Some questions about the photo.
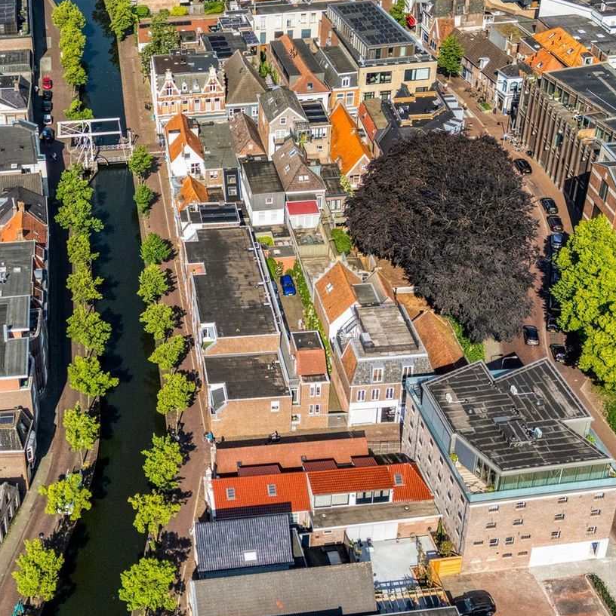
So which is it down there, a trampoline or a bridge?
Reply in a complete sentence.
The image shows a bridge.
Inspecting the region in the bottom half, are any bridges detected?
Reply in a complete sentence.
No, looking in the bottom half, there is no bridge.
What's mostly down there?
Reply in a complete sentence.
The largest share of the image is taken up by buildings.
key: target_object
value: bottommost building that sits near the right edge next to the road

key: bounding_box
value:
[402,357,616,575]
